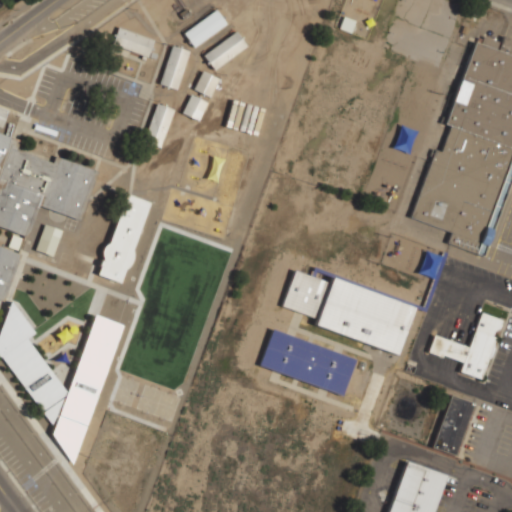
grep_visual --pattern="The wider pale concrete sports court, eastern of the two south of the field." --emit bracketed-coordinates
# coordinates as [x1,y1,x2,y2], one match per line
[137,385,180,422]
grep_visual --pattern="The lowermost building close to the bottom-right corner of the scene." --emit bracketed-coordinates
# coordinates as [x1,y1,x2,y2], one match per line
[390,462,451,512]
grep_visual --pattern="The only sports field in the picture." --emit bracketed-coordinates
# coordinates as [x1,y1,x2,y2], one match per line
[121,228,231,389]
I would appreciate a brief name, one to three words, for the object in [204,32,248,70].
building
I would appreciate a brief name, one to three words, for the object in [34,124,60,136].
vehicle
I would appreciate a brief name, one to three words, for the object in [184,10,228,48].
shed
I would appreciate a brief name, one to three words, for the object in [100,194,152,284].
building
